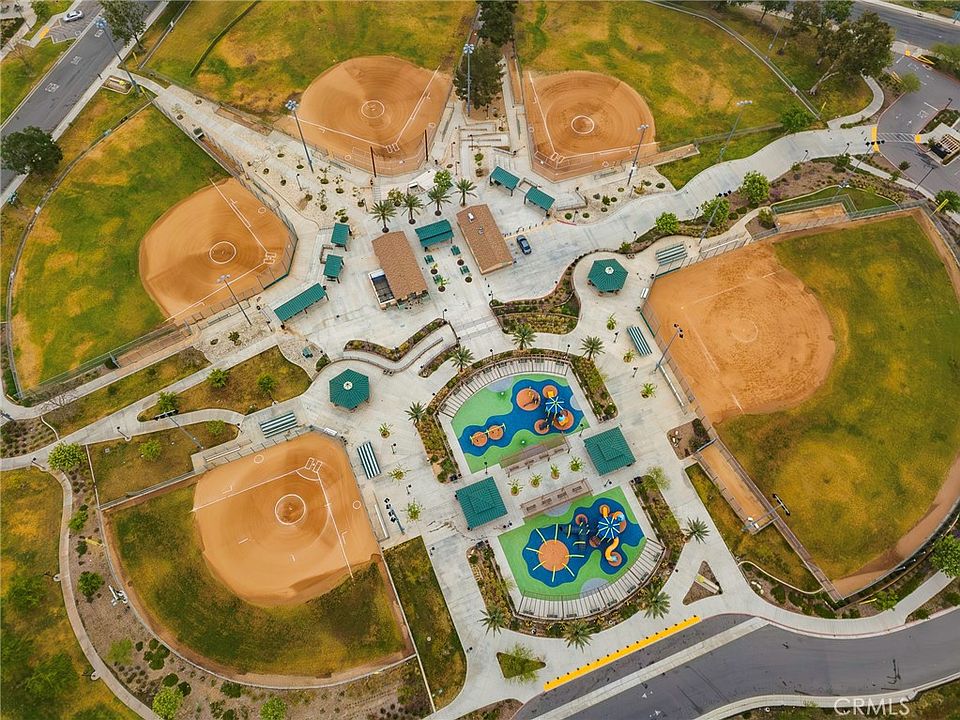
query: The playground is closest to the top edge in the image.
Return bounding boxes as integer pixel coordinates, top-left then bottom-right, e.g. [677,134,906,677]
[452,372,590,472]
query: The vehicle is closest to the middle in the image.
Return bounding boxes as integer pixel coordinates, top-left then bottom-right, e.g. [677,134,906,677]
[516,233,532,256]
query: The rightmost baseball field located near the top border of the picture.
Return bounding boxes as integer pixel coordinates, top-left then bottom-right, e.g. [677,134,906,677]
[517,0,817,181]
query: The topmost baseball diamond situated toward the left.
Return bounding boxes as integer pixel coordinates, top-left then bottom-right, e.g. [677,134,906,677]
[141,0,470,177]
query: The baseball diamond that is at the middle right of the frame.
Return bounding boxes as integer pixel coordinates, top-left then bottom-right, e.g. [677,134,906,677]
[639,207,960,598]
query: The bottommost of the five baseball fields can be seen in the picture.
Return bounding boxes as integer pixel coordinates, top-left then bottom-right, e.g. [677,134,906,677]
[101,432,413,685]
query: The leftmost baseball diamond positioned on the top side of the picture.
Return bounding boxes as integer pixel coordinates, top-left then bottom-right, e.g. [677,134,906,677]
[10,102,295,394]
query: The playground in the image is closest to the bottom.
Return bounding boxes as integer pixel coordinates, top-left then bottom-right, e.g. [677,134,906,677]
[498,487,647,600]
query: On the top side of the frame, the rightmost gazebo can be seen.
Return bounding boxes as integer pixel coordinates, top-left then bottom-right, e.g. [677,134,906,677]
[586,259,628,299]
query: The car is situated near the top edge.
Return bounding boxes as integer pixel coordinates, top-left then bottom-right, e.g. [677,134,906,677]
[62,10,84,24]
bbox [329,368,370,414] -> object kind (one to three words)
gazebo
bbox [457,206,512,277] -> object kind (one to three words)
building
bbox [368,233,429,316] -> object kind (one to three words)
building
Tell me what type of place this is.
sports ground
